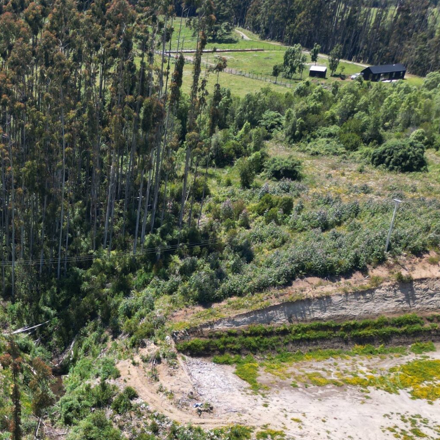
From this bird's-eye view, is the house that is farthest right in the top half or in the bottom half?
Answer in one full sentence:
Seen from above, the house that is farthest right lies in the top half of the view.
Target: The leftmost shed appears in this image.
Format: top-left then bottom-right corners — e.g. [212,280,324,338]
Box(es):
[305,61,327,77]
